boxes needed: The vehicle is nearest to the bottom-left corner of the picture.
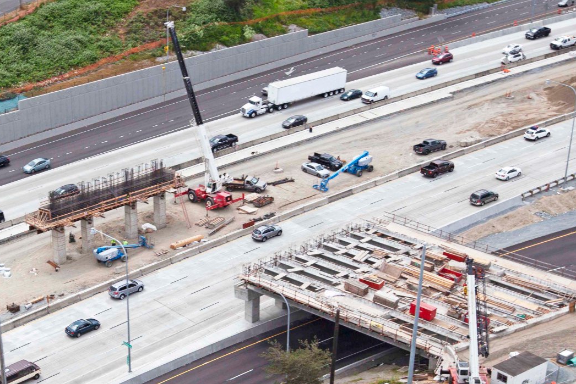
[0,359,43,384]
